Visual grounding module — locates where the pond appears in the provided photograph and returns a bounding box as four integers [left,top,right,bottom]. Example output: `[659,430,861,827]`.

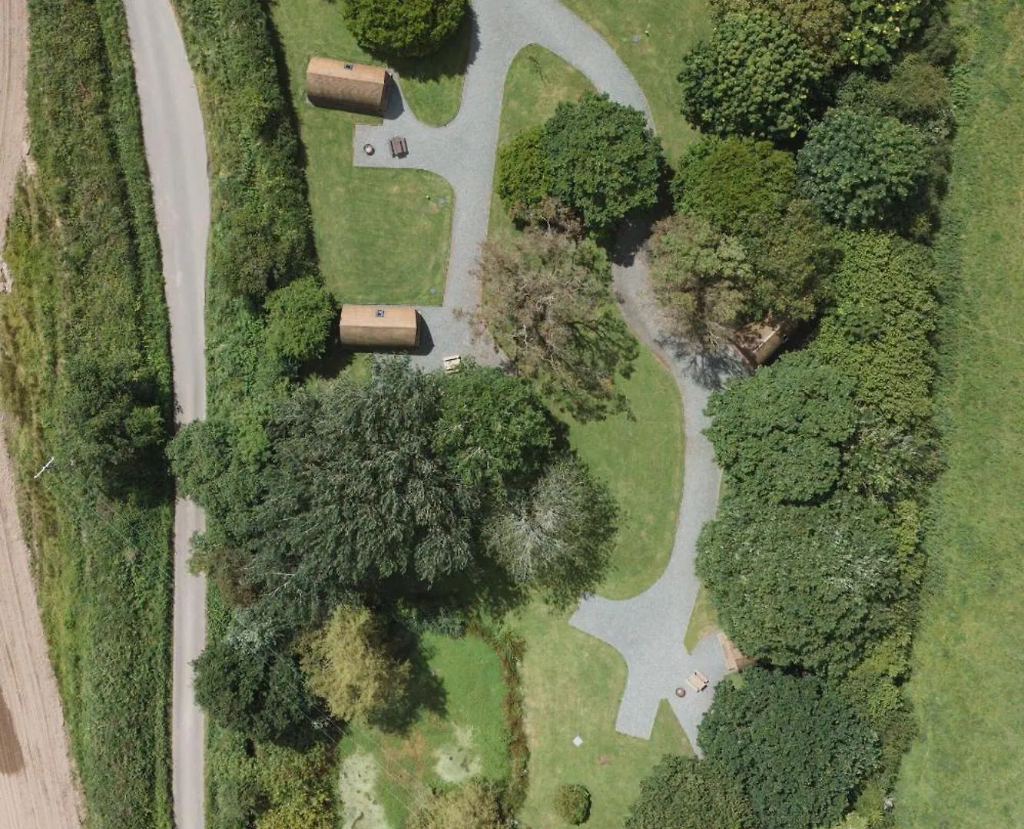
[333,635,512,829]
